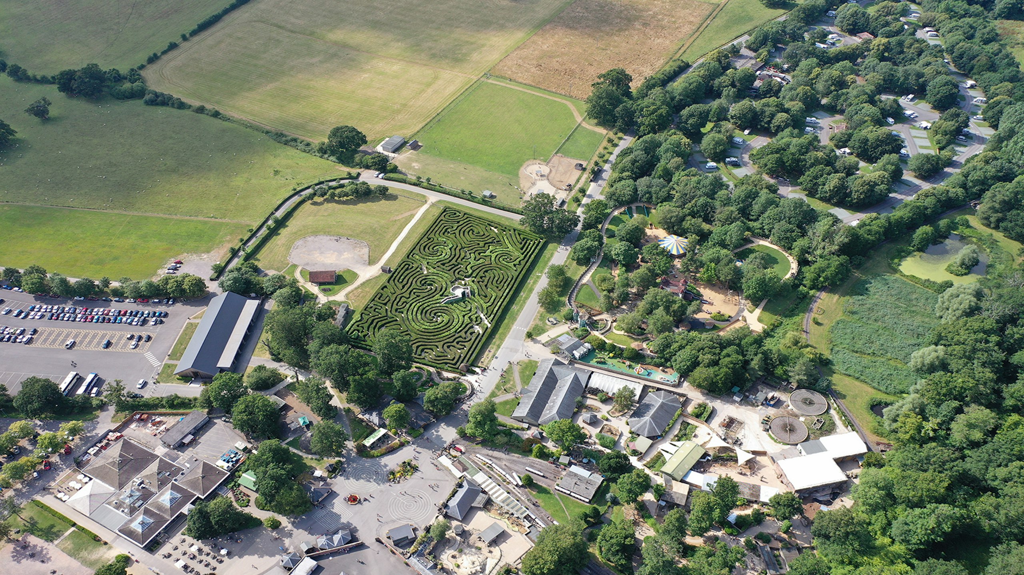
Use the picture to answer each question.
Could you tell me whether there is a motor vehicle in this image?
Yes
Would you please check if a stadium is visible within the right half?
No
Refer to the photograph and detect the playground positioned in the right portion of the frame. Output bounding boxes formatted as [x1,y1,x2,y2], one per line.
[575,204,799,344]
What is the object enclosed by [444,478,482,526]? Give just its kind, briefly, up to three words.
building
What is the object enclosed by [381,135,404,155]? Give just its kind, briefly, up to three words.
shed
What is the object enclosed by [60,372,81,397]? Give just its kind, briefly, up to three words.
bus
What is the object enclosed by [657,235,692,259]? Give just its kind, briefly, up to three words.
tent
